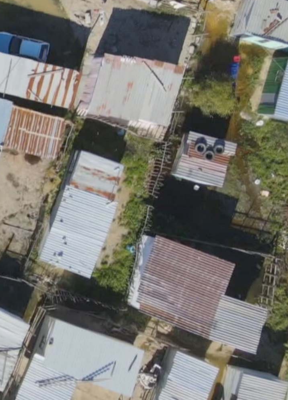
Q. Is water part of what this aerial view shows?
Yes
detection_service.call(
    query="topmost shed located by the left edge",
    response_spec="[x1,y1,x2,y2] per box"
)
[0,52,82,109]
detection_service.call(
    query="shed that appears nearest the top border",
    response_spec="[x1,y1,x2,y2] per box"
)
[227,0,288,52]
